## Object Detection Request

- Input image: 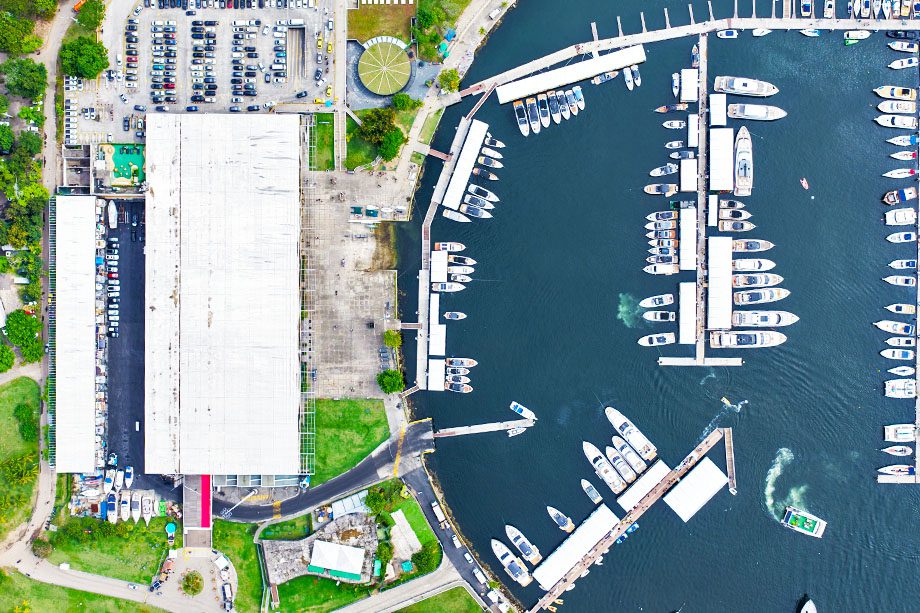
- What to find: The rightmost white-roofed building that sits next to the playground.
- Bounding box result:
[145,112,305,475]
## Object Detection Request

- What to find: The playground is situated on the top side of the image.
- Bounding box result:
[92,142,145,198]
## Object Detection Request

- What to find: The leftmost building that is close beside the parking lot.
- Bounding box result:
[49,196,106,474]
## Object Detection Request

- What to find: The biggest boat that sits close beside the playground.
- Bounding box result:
[106,200,119,230]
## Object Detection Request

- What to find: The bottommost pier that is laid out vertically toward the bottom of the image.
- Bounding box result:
[723,428,736,488]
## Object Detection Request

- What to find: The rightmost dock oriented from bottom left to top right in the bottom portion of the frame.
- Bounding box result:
[531,428,723,613]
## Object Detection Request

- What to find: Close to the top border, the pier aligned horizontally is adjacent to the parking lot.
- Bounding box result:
[470,18,920,93]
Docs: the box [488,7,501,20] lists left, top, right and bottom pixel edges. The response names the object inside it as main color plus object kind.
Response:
white vehicle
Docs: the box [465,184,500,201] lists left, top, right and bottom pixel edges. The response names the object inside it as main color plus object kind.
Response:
white boat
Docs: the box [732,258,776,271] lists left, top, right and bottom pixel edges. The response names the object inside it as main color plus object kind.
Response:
white boat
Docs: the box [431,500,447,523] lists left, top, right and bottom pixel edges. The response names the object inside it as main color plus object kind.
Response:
white vehicle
